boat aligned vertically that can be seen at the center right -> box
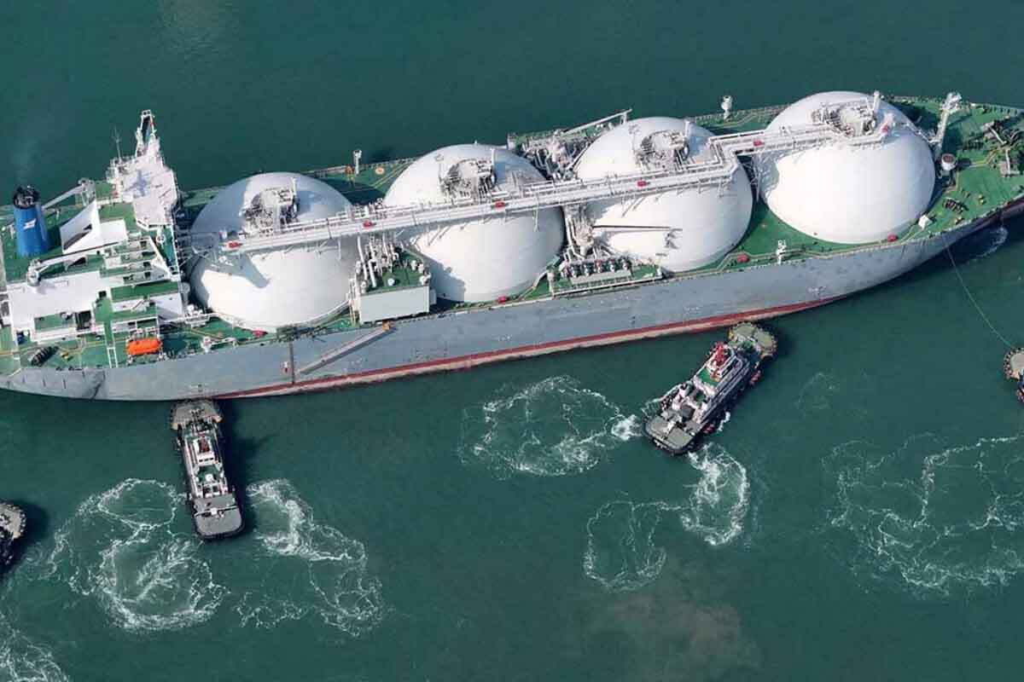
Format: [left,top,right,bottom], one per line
[1001,345,1024,398]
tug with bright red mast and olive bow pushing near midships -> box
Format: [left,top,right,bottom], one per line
[642,315,775,458]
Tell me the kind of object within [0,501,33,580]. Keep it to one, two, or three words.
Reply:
boat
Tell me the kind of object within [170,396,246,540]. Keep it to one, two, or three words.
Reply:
boat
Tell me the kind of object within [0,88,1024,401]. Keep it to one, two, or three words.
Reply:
ship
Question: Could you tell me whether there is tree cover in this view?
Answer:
No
